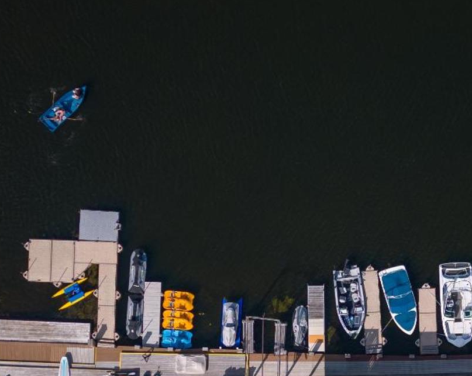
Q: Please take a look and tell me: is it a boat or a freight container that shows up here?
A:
boat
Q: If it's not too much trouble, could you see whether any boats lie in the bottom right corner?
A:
Yes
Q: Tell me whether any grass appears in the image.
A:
No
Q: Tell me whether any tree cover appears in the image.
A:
No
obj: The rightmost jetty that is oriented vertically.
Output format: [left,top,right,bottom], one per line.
[413,280,445,354]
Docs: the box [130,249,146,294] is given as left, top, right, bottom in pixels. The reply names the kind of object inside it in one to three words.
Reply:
boat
